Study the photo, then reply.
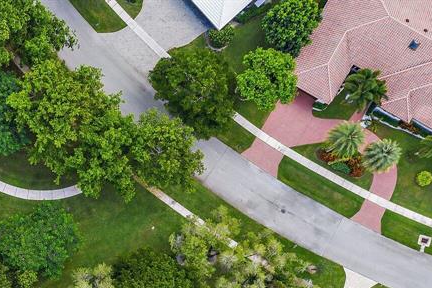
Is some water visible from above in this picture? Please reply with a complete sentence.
No, there is no water in the image.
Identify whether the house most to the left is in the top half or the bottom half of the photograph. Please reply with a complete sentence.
It is in the top half that the house most to the left appears.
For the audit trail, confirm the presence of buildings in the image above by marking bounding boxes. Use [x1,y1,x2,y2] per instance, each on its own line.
[293,0,432,133]
[186,0,250,29]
